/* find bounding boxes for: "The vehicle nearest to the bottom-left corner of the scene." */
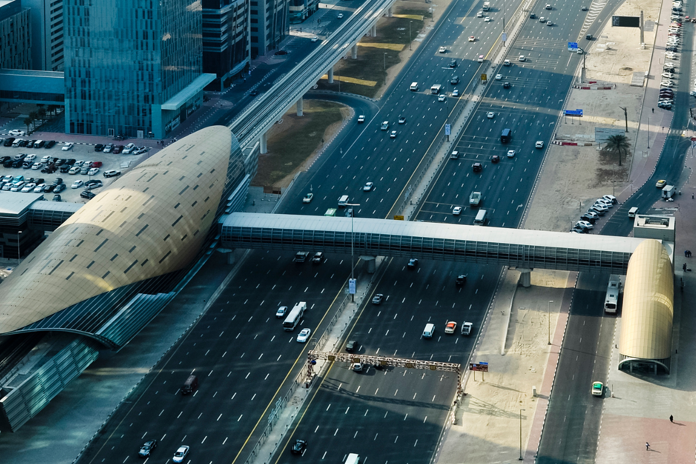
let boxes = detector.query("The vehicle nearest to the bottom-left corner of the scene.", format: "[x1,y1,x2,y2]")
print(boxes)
[138,439,162,454]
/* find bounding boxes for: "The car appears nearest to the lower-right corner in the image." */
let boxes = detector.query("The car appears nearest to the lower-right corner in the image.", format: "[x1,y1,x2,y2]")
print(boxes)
[593,379,607,393]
